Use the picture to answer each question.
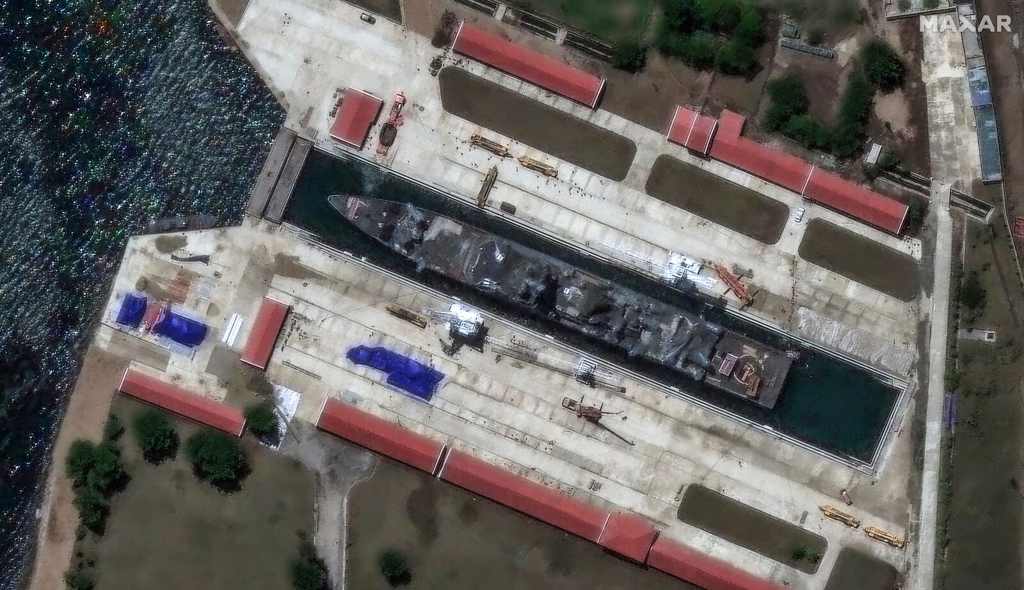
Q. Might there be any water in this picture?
Yes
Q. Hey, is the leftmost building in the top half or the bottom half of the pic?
bottom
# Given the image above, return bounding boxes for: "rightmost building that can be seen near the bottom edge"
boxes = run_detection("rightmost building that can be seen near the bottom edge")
[648,533,794,590]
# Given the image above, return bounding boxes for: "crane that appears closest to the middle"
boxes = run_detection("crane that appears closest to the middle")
[426,300,487,340]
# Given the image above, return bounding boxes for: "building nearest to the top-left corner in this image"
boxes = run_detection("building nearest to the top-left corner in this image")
[330,87,383,147]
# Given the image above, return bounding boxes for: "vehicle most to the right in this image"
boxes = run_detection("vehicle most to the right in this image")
[840,489,852,505]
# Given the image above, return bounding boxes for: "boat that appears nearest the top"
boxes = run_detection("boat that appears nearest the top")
[379,122,396,144]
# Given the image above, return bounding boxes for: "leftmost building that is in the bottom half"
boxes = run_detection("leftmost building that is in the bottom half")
[120,368,245,436]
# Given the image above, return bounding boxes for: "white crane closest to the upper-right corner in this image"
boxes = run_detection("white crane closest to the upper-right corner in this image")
[663,244,718,287]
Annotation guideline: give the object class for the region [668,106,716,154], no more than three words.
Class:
building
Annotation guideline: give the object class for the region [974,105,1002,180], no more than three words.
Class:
shed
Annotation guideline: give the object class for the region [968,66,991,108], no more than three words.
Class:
shed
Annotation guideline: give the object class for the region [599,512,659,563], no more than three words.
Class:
building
